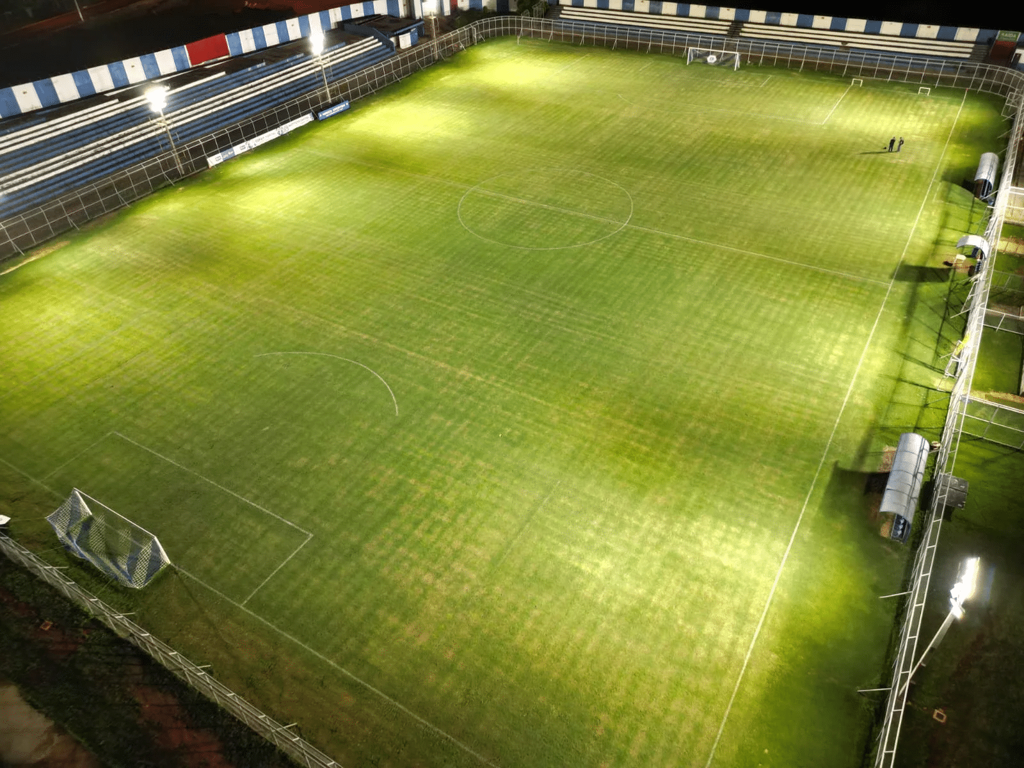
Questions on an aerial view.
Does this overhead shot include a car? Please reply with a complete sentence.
No, the frame has no car in it.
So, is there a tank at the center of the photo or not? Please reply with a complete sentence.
No, there's no tank to be seen at the center of the photo.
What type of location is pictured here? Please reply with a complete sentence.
It's a sports ground.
